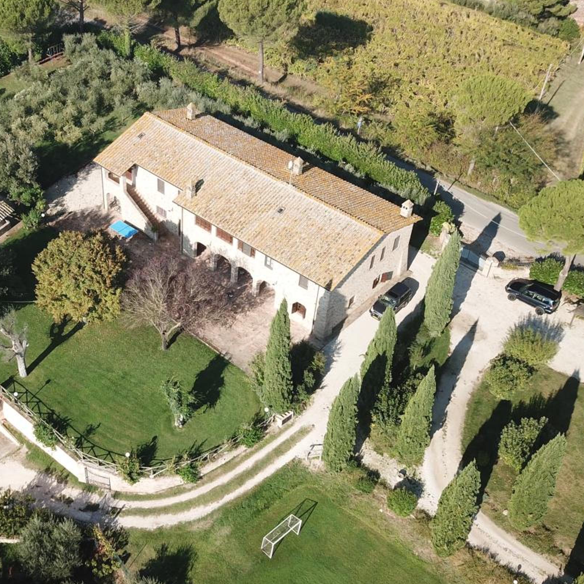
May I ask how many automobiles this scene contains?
two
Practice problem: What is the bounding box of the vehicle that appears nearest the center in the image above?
[370,277,419,322]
